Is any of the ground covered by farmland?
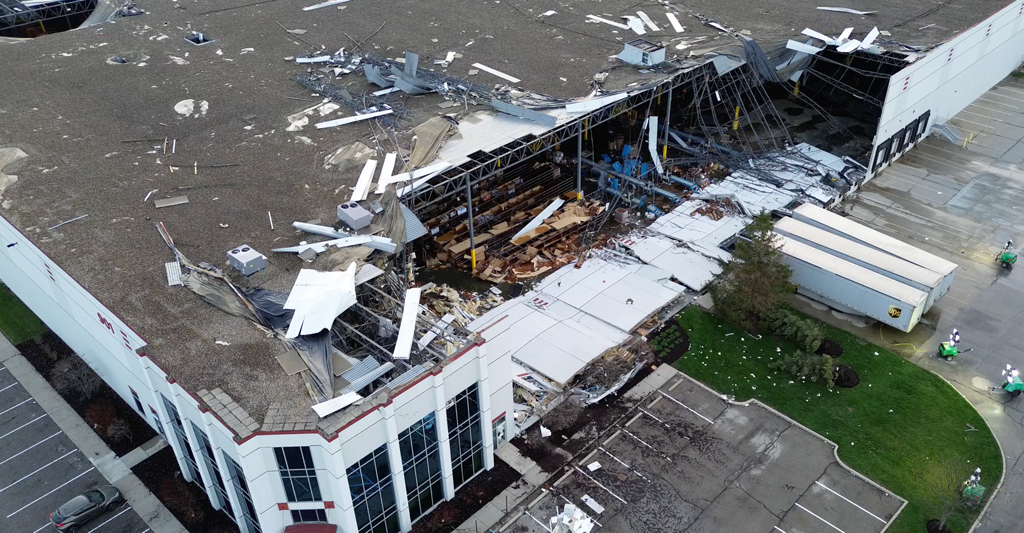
No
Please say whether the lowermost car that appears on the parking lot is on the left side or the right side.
left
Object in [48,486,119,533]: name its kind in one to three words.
car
